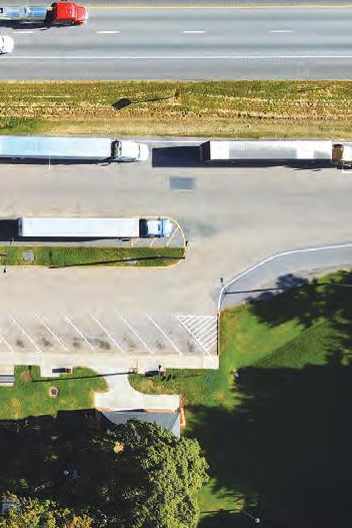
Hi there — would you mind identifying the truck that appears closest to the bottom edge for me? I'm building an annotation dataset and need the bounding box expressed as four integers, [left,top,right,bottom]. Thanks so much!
[17,217,173,239]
